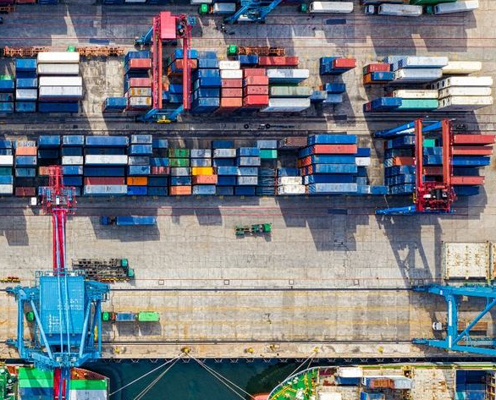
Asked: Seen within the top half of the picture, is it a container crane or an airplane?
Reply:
container crane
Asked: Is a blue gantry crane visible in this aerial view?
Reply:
Yes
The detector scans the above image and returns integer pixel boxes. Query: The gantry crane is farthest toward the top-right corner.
[369,114,454,219]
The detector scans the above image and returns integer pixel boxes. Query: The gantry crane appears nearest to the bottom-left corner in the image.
[5,167,110,400]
